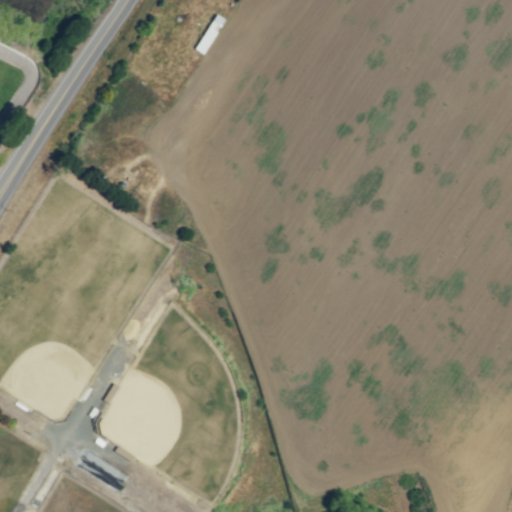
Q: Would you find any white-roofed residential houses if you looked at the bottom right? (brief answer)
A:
No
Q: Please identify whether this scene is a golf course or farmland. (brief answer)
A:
farmland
